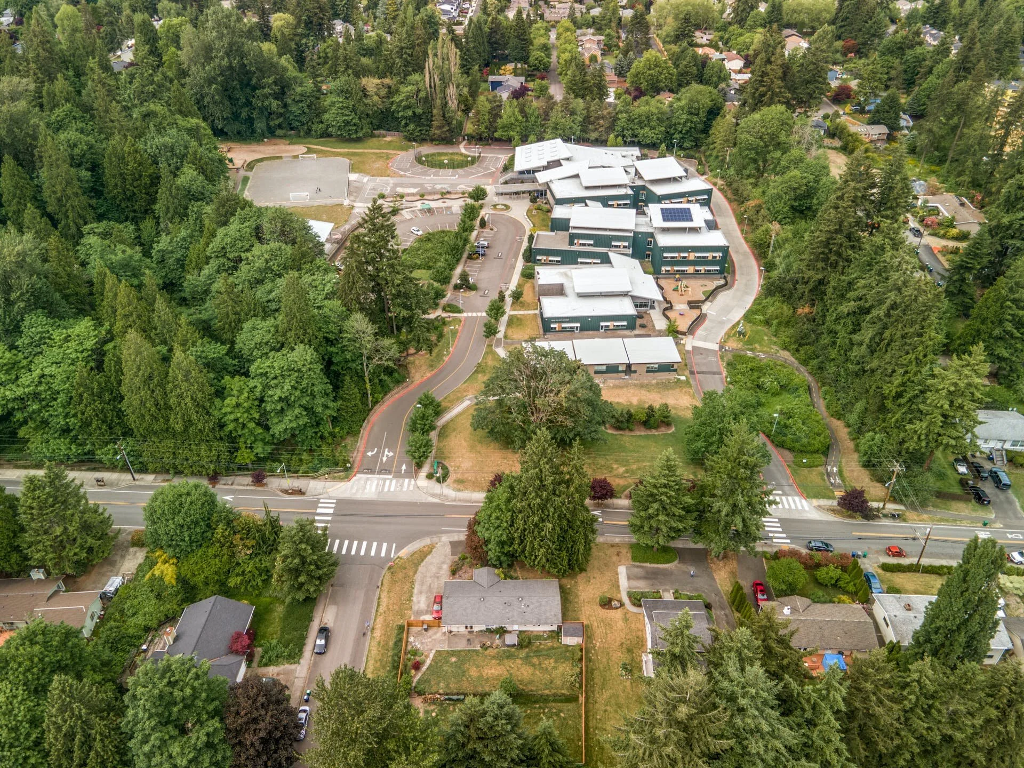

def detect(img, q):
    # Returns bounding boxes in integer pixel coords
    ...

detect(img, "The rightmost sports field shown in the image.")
[244,157,349,203]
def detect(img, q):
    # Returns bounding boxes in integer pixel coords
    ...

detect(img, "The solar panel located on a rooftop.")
[660,207,694,221]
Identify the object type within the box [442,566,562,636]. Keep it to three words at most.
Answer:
house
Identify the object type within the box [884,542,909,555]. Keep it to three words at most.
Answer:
vehicle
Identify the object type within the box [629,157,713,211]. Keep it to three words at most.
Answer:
building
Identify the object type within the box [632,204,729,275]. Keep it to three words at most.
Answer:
building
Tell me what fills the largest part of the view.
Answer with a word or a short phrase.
trees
